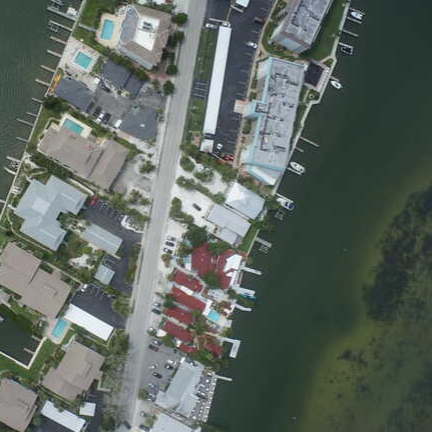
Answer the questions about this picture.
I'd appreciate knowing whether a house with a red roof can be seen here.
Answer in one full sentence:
Yes, a house with a red roof can be made out from above.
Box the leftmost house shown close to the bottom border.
[0,375,39,432]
